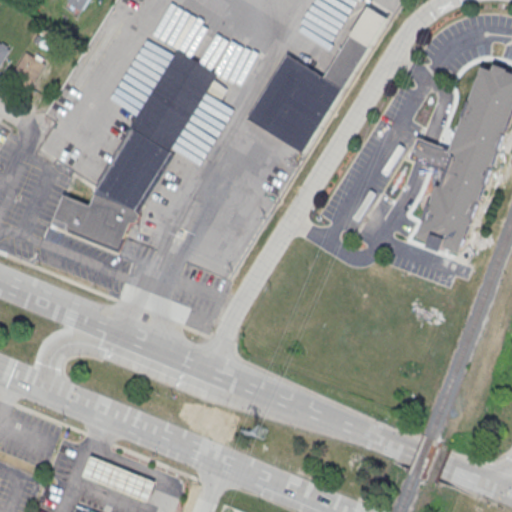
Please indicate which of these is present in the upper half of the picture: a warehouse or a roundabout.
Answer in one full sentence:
The one visible in the upper half of the picture is a warehouse.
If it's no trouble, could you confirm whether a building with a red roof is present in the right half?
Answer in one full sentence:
No, I can find no building with a red roof in the right half.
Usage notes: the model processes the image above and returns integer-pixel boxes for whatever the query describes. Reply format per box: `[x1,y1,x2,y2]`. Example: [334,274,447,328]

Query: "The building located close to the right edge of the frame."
[412,64,512,256]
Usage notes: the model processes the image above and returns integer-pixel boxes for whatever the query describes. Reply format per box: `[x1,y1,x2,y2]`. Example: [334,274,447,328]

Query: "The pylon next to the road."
[237,424,274,443]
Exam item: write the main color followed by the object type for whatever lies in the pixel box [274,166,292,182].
white vehicle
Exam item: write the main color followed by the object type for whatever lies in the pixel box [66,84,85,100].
white vehicle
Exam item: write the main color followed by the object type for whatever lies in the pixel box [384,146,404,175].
white bus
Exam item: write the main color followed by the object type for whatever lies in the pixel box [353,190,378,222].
white bus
